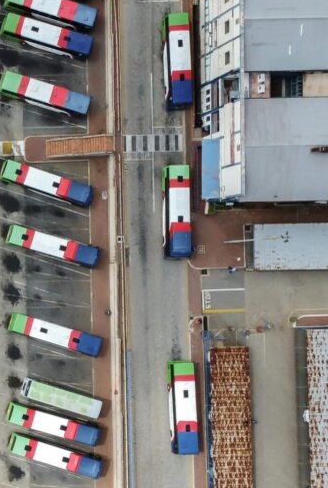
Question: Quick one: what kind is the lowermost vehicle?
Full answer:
It turns out the lowermost vehicle is a bus.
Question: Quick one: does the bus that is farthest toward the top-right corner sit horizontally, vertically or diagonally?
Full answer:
Seen from above, the bus that is farthest toward the top-right corner lies vertically.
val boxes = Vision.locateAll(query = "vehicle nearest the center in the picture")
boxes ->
[158,165,191,261]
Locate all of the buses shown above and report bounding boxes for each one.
[163,360,197,458]
[4,431,104,481]
[0,0,97,35]
[1,225,102,272]
[15,373,101,419]
[0,73,93,119]
[2,401,102,448]
[0,13,95,62]
[158,165,191,261]
[158,13,191,112]
[4,312,103,359]
[0,160,96,209]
